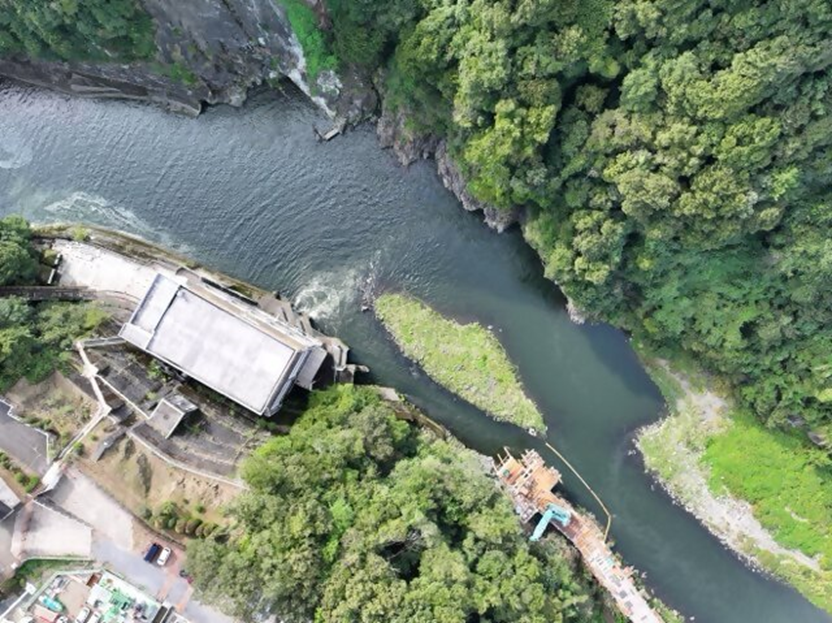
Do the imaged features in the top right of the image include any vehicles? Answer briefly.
No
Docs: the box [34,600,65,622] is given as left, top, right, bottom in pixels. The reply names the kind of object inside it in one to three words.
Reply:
shed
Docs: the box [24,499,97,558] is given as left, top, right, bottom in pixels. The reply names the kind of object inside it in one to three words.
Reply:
building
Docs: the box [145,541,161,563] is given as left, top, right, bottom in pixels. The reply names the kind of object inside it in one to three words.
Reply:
car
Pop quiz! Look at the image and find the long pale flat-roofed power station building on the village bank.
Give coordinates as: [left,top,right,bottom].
[123,273,332,415]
